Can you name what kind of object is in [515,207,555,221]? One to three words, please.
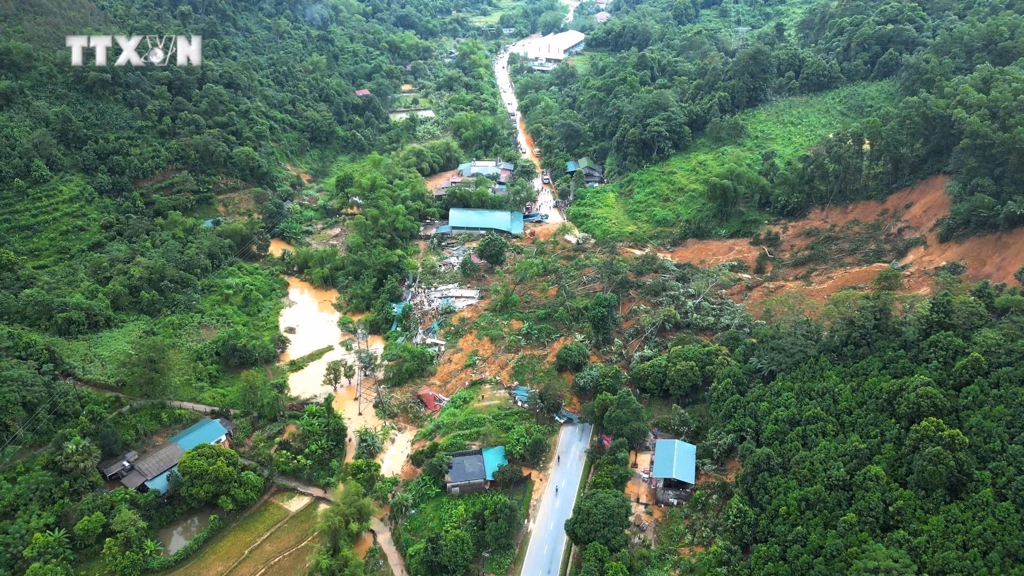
vehicle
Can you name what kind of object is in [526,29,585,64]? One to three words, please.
building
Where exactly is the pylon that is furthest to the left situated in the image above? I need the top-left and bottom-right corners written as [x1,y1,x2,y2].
[335,323,384,415]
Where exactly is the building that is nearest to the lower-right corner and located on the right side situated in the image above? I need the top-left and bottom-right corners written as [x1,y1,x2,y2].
[651,439,696,504]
